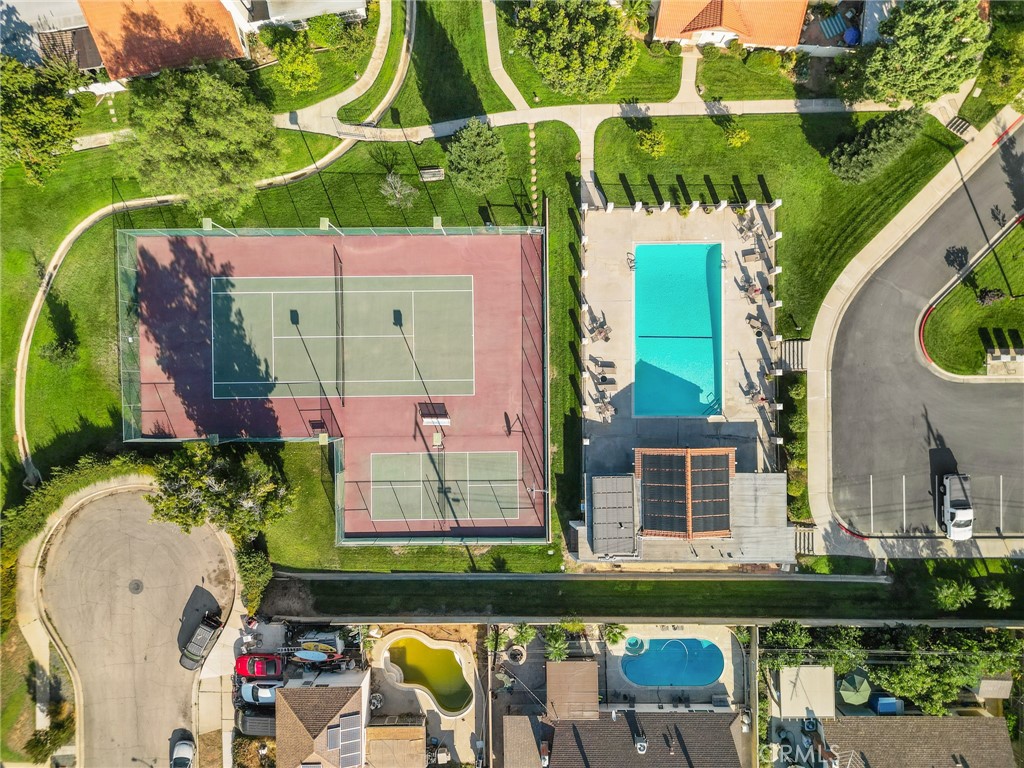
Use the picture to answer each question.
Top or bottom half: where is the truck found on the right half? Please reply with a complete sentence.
The truck found on the right half sits in the bottom half of the picture.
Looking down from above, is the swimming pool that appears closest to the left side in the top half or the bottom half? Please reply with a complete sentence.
The bottom half of the photo is where the swimming pool that appears closest to the left side is.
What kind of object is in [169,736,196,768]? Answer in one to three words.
car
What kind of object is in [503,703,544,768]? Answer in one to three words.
house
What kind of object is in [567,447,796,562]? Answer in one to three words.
building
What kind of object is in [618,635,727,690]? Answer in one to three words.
swimming pool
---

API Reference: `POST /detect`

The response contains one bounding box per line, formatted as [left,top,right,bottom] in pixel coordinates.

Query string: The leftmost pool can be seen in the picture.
[383,633,476,715]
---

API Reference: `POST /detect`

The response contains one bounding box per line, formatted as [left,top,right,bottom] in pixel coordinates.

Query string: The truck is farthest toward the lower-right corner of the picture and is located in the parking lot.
[940,475,973,538]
